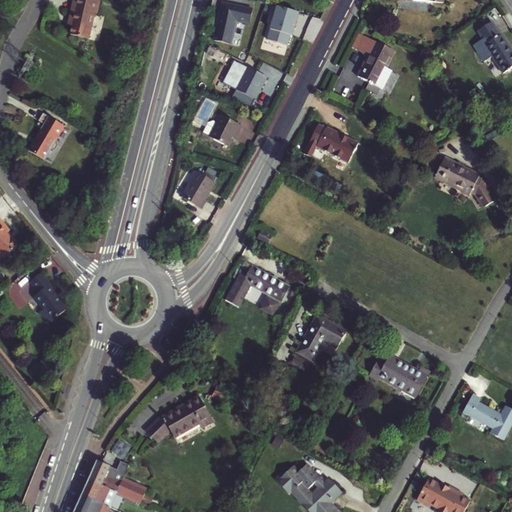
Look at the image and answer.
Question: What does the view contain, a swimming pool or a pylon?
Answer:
swimming pool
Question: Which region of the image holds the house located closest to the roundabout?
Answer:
left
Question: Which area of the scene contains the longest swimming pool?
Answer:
top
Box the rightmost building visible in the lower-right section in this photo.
[462,394,512,442]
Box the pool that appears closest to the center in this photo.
[192,98,218,128]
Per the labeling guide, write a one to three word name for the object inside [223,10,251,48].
house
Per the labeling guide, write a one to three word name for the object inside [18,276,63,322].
house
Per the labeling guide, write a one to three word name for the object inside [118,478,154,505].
barn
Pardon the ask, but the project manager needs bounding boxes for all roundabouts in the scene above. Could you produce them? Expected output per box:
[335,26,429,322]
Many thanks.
[82,257,178,352]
